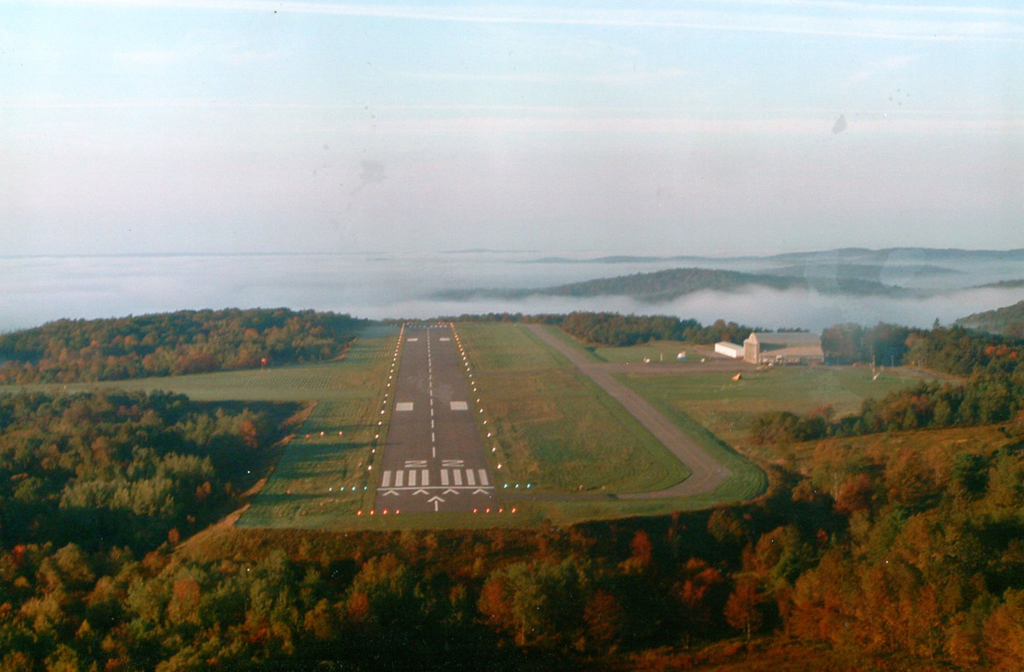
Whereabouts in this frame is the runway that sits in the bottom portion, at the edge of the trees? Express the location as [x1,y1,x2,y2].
[373,323,499,512]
